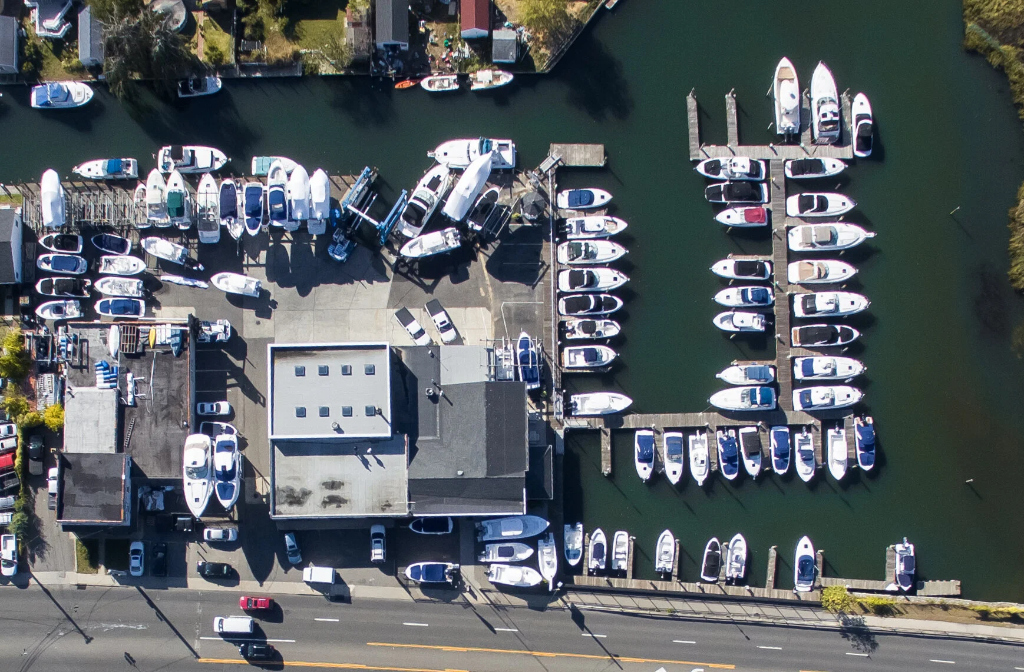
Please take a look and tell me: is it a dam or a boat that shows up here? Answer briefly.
boat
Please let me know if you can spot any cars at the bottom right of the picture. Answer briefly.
No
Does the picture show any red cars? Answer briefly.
Yes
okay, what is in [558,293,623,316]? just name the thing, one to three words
boat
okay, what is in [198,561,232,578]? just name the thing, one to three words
car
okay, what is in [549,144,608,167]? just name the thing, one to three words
pier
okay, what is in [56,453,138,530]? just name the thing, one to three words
building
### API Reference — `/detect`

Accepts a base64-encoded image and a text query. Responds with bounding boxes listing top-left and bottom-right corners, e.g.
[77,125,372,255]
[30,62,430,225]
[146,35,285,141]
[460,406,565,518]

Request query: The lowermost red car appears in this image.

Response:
[240,595,274,611]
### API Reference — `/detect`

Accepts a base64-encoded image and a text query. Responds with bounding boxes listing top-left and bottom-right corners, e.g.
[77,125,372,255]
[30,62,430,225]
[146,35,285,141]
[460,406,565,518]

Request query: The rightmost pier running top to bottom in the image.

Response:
[733,158,840,413]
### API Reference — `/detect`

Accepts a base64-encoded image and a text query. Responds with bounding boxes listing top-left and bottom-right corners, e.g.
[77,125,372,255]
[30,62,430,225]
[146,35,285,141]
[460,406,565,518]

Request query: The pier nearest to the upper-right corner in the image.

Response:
[687,86,855,160]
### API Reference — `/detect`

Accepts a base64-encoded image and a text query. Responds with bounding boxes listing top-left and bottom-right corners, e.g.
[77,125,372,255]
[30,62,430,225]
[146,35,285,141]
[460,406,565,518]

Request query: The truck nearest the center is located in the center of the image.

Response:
[427,300,457,346]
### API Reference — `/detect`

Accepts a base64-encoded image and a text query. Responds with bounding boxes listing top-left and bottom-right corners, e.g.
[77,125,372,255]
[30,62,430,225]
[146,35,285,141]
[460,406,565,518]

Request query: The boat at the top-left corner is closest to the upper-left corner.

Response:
[31,81,96,109]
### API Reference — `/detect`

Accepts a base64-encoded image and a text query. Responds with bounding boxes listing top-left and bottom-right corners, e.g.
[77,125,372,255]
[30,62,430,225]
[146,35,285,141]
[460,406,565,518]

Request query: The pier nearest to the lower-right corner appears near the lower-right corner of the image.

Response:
[916,580,961,596]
